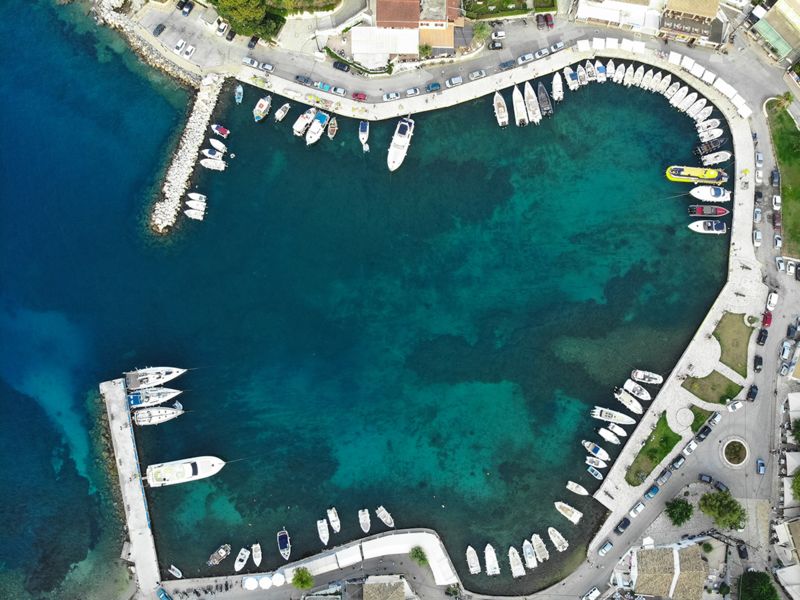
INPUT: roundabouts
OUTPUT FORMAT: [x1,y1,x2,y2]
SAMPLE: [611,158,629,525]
[719,437,751,469]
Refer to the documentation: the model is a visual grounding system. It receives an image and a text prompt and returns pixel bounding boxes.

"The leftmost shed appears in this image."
[199,6,220,33]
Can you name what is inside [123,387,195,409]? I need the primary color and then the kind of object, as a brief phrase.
white boat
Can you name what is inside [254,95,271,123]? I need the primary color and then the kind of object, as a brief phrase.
white boat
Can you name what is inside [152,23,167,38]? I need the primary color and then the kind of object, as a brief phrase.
gray car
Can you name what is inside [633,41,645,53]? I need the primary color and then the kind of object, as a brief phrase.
white umbrella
